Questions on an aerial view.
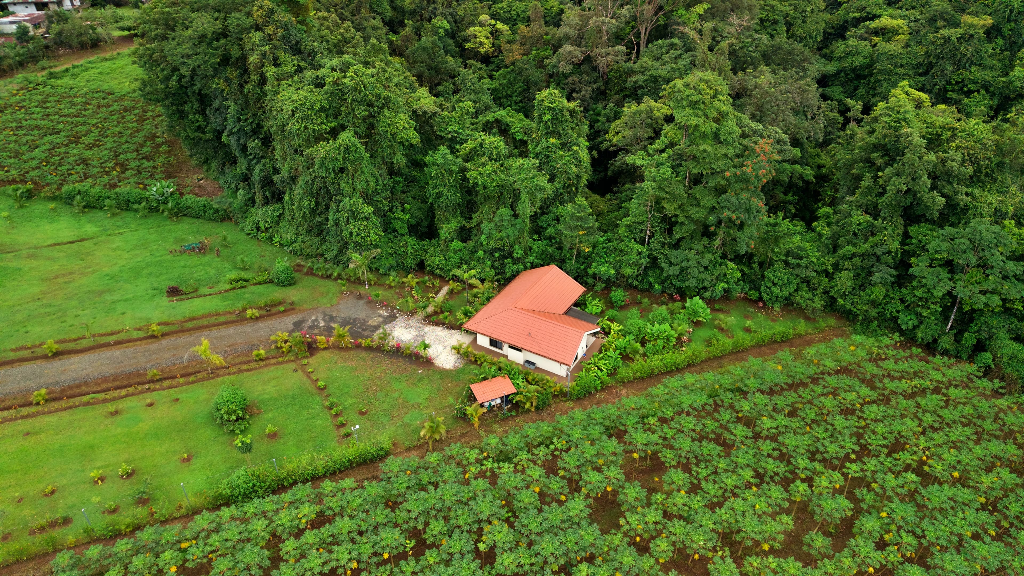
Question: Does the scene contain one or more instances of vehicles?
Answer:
No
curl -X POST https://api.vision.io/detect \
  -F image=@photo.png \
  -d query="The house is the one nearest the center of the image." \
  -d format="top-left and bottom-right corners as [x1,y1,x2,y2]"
[459,265,602,379]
